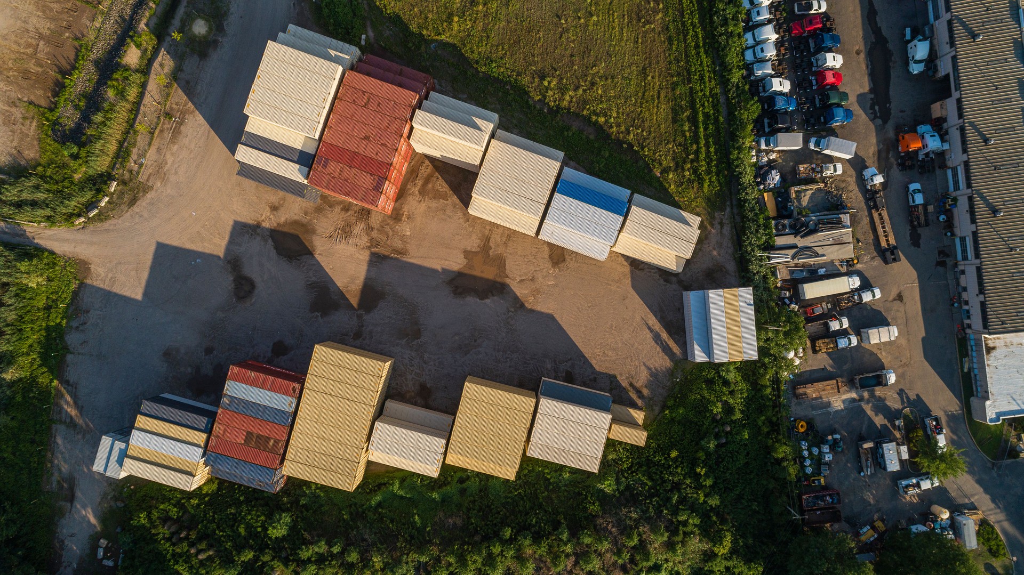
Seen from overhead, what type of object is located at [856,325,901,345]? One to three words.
vehicle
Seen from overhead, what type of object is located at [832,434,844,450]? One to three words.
vehicle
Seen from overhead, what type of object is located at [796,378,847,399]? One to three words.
trailer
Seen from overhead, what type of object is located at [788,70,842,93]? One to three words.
truck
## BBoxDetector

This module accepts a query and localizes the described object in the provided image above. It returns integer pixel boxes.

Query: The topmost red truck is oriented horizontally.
[786,14,838,39]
